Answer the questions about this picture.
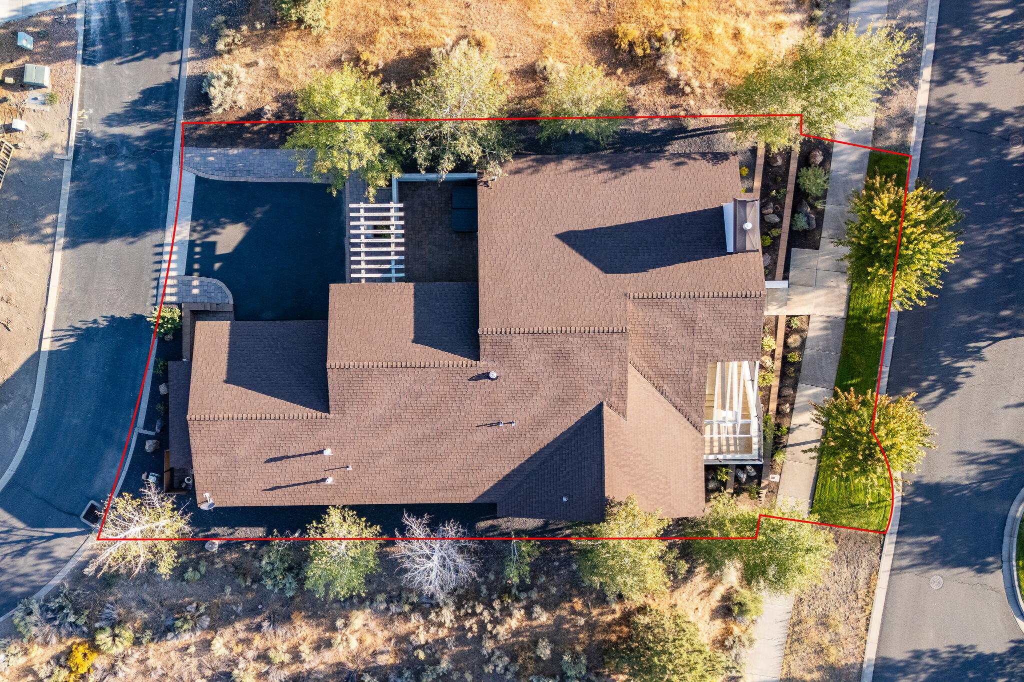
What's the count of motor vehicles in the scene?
none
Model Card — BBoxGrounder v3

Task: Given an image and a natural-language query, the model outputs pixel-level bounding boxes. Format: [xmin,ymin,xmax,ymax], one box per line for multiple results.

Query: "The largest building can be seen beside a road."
[188,152,766,520]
